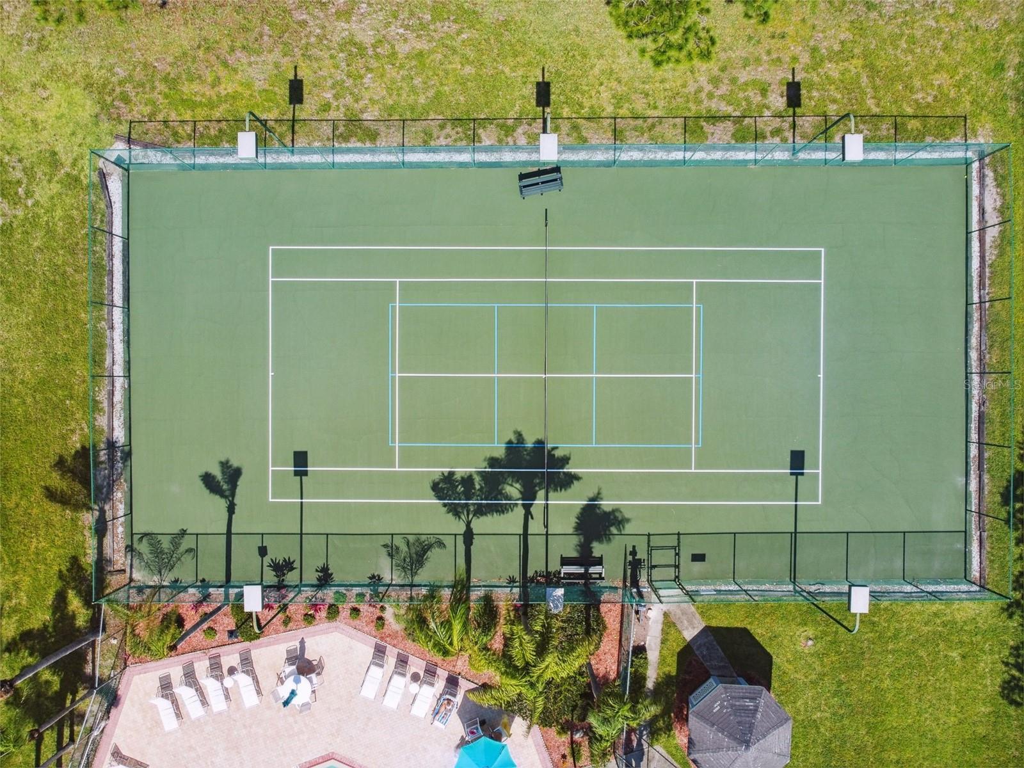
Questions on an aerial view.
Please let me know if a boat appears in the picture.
No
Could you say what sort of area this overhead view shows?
sports ground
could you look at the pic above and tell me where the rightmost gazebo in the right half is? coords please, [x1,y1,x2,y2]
[686,675,794,768]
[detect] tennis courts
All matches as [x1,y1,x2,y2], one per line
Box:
[123,160,972,585]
